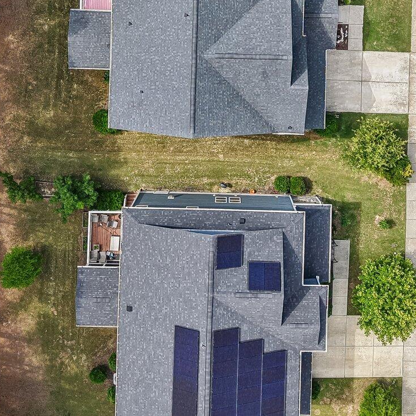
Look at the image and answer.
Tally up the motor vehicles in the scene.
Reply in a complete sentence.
The photo contains no motor vehicles.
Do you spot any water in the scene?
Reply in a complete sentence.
No, the picture contains no water.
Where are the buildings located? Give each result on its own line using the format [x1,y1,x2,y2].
[76,192,333,416]
[68,0,338,138]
